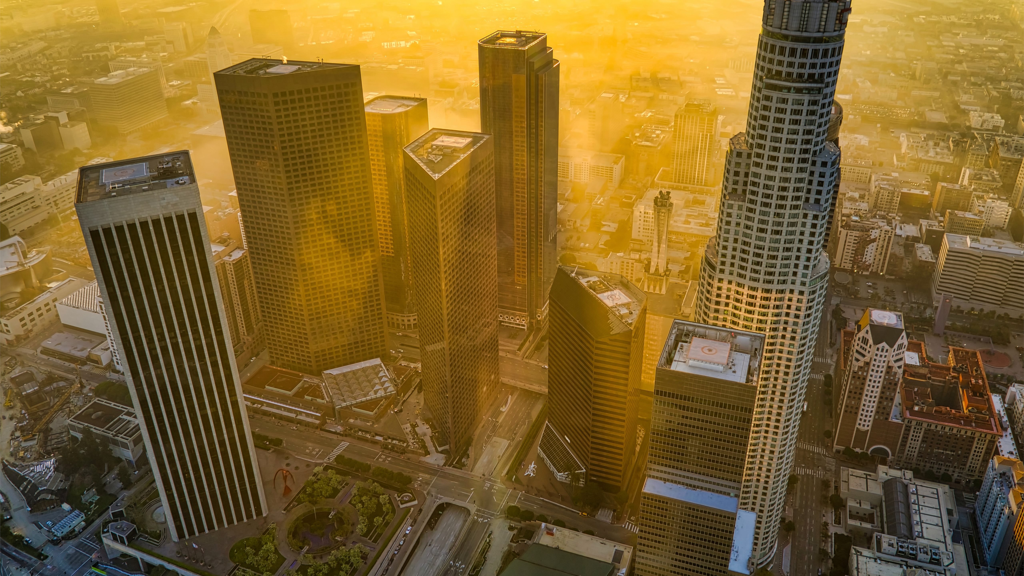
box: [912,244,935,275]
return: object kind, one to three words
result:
building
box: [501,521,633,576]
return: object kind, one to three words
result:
building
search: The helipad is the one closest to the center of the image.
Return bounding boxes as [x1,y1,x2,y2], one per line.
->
[596,289,632,309]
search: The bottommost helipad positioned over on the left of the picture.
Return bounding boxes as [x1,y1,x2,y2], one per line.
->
[103,163,146,183]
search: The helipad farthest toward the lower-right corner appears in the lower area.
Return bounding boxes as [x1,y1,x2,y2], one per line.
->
[905,351,919,365]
